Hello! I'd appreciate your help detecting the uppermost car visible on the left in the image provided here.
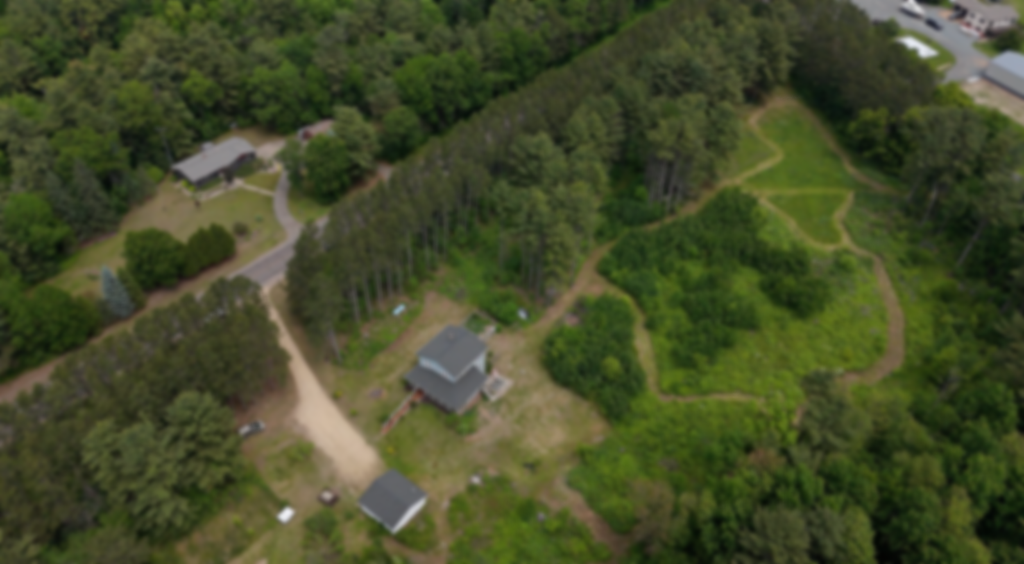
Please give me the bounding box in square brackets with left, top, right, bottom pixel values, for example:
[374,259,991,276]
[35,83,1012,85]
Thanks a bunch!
[237,419,264,438]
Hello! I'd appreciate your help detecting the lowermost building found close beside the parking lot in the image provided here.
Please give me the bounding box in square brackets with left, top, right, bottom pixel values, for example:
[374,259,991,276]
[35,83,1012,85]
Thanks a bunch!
[980,57,1024,107]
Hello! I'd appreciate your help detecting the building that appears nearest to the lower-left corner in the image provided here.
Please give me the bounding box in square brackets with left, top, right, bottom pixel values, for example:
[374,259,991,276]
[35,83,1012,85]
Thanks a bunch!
[358,470,428,535]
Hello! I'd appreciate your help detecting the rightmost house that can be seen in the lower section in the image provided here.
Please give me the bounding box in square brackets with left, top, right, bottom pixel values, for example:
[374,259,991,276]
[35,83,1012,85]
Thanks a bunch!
[403,324,489,418]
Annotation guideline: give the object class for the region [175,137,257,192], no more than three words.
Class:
house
